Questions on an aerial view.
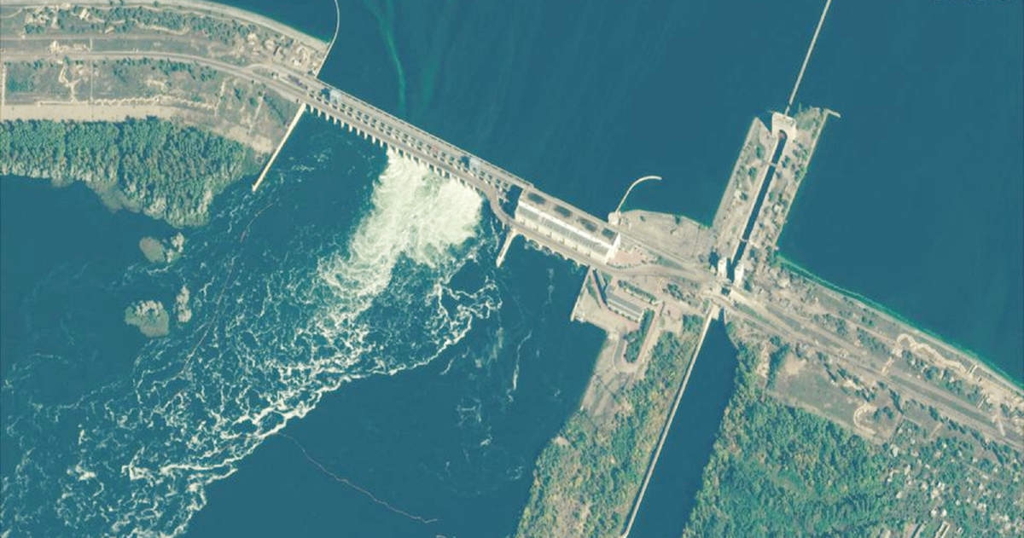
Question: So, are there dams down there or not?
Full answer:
Yes, there is a dam in the image.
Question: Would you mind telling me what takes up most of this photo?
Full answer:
What you mostly see from above here is water.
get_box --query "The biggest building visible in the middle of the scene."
[507,180,621,271]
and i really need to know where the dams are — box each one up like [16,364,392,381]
[300,74,600,269]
